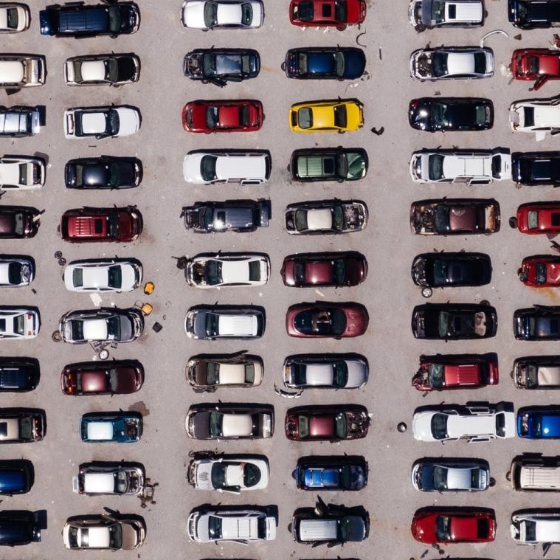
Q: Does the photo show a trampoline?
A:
No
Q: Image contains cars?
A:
Yes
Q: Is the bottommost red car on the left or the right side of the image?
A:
right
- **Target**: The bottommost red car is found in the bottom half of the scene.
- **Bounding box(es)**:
[412,510,495,547]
